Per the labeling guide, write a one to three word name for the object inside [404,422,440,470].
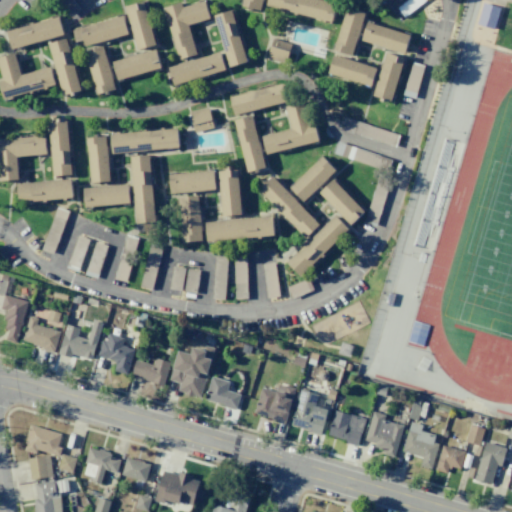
house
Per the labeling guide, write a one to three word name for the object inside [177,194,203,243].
building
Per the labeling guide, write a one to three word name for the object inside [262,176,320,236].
building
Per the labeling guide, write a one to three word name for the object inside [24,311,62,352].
house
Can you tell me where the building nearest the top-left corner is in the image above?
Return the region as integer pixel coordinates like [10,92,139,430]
[6,16,63,50]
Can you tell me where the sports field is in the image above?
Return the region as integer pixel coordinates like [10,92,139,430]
[442,90,512,384]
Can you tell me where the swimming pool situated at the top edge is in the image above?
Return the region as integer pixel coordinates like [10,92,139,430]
[285,24,330,58]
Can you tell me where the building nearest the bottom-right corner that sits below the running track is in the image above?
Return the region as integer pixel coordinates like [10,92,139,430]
[476,444,508,485]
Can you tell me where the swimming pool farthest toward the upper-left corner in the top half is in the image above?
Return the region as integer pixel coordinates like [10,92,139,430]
[198,128,234,154]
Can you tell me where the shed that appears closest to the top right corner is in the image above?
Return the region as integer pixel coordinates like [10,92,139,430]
[480,2,502,28]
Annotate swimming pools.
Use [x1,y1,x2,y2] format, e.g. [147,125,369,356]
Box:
[198,128,234,154]
[285,24,330,58]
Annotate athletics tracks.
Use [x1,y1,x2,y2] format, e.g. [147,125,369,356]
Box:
[410,51,512,405]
